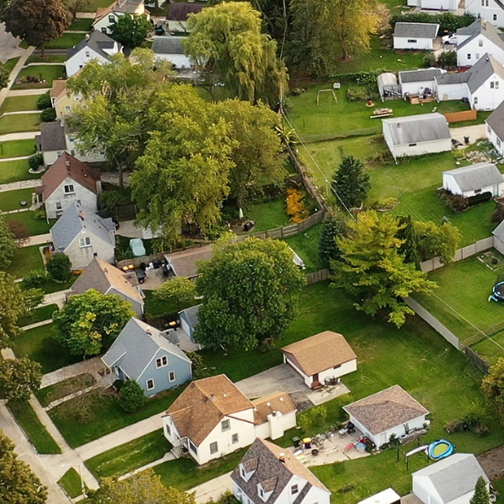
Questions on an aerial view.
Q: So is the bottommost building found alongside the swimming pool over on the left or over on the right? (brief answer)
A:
right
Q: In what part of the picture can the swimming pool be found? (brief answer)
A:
bottom right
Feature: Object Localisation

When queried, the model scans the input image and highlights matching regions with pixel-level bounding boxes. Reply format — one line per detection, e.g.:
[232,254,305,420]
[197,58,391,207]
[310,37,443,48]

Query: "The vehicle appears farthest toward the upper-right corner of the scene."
[435,31,457,46]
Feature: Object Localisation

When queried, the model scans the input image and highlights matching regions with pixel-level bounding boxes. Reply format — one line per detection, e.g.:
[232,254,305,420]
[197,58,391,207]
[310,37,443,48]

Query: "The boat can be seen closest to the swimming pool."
[400,442,432,457]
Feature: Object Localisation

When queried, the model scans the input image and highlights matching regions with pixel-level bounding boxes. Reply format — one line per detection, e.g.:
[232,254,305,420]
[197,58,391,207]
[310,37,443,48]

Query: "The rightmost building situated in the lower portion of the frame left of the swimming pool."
[343,385,429,450]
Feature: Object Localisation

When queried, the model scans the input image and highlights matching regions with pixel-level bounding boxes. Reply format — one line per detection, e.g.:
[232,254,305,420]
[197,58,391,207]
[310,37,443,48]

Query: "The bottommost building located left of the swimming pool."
[234,436,334,504]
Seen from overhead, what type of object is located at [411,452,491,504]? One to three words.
building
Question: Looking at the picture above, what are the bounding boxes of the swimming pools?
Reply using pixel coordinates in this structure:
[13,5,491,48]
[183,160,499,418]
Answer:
[428,438,459,459]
